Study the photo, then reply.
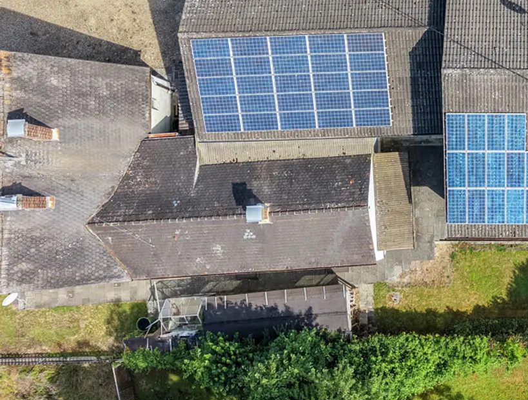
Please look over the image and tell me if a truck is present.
No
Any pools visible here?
No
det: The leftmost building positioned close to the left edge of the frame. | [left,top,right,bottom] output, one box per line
[0,48,176,287]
